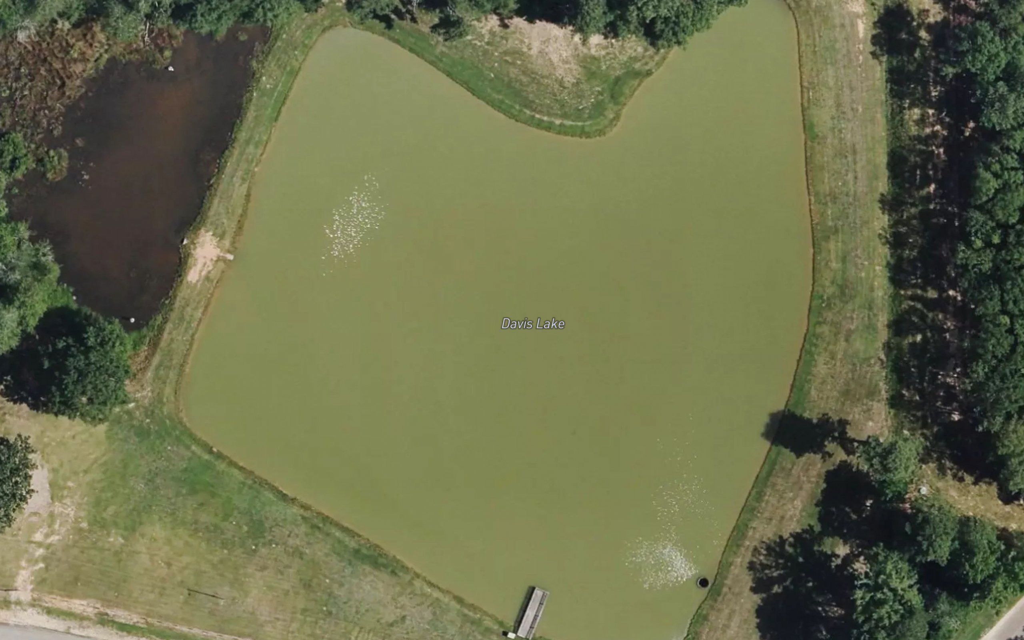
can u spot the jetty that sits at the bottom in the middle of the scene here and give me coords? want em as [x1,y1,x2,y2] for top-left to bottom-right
[517,587,549,640]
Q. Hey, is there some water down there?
Yes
